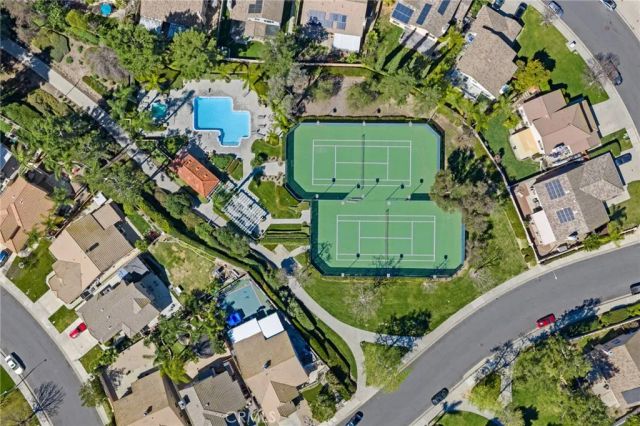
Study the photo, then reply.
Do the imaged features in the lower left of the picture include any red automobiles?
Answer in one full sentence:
Yes, a red automobile can be seen in the lower left of the picture.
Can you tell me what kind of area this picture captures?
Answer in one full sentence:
This image shows a residential area.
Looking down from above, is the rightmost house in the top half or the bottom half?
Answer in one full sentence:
It is in the bottom half that the rightmost house appears.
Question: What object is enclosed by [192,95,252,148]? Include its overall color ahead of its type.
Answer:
blue swimming pool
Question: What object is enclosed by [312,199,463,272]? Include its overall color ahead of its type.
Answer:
green tennis court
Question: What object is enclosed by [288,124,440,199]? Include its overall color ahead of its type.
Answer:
green tennis court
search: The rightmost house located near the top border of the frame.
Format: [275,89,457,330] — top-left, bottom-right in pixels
[454,6,522,101]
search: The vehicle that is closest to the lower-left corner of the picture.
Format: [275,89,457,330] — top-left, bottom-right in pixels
[5,354,23,373]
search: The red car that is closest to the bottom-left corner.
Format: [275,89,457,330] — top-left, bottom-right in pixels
[69,321,87,339]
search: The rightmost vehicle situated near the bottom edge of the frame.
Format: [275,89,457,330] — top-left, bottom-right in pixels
[431,387,449,405]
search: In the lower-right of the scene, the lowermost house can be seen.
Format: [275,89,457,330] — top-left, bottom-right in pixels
[586,323,640,409]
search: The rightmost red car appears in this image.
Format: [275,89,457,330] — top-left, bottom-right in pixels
[534,314,555,329]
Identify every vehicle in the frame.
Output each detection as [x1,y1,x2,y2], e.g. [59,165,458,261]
[599,0,618,14]
[431,387,449,405]
[346,409,363,426]
[5,354,23,373]
[626,282,640,294]
[547,0,564,18]
[491,0,505,12]
[0,247,11,266]
[612,152,632,165]
[69,321,87,339]
[512,1,529,21]
[534,314,555,329]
